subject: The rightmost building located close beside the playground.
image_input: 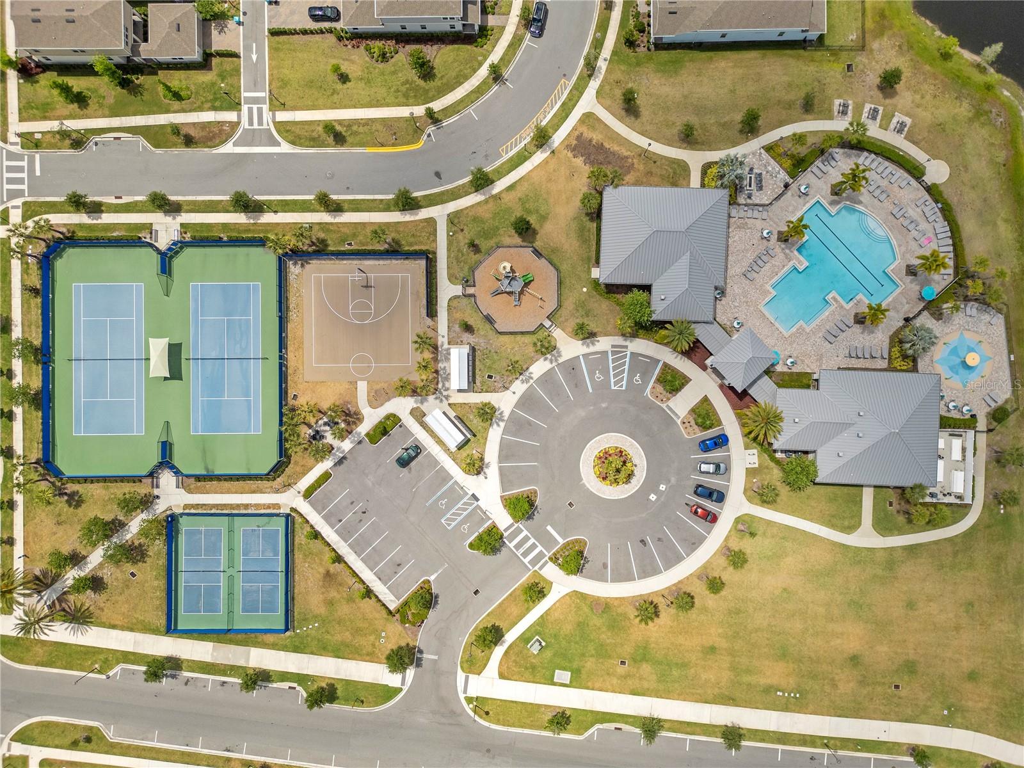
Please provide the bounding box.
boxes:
[591,186,727,322]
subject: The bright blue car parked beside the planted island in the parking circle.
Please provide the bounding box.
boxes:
[698,435,729,452]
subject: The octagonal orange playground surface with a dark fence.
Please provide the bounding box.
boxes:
[463,246,558,332]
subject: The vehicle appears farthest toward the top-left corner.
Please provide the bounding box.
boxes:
[308,3,339,20]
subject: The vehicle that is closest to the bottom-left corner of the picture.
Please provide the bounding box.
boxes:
[394,443,422,469]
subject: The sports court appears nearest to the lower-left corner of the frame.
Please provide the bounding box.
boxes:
[177,528,226,614]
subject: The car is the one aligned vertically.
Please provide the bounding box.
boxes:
[530,1,548,37]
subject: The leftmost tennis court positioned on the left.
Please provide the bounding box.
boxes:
[67,284,144,435]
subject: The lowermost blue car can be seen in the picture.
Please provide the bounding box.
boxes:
[693,484,726,503]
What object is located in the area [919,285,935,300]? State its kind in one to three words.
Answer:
umbrella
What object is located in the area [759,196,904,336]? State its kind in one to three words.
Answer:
swimming pool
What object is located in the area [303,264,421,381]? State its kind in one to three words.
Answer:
basketball court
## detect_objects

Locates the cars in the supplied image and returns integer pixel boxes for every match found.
[698,435,729,452]
[693,484,726,503]
[530,1,548,37]
[689,503,718,524]
[394,443,422,469]
[308,3,339,20]
[697,462,728,477]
